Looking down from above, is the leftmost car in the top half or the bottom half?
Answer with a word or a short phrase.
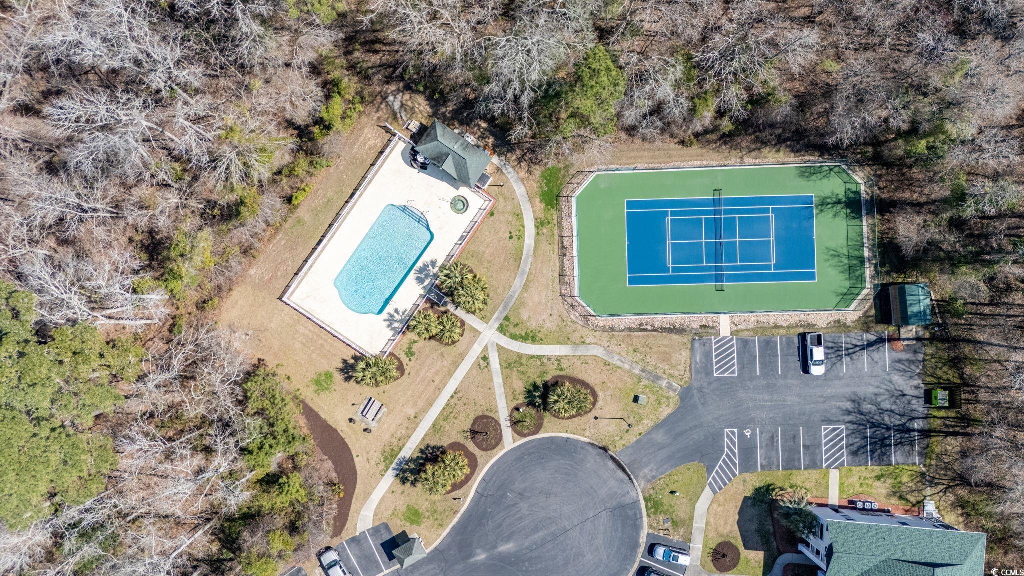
bottom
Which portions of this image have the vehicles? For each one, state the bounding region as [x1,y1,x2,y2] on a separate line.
[651,543,691,566]
[320,547,350,576]
[805,331,828,376]
[644,566,681,576]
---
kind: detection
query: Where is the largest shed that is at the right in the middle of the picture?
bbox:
[890,284,933,325]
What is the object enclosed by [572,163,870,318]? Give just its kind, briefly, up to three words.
tennis court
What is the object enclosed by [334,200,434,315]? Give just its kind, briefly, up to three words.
swimming pool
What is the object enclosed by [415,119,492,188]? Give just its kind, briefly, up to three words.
building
